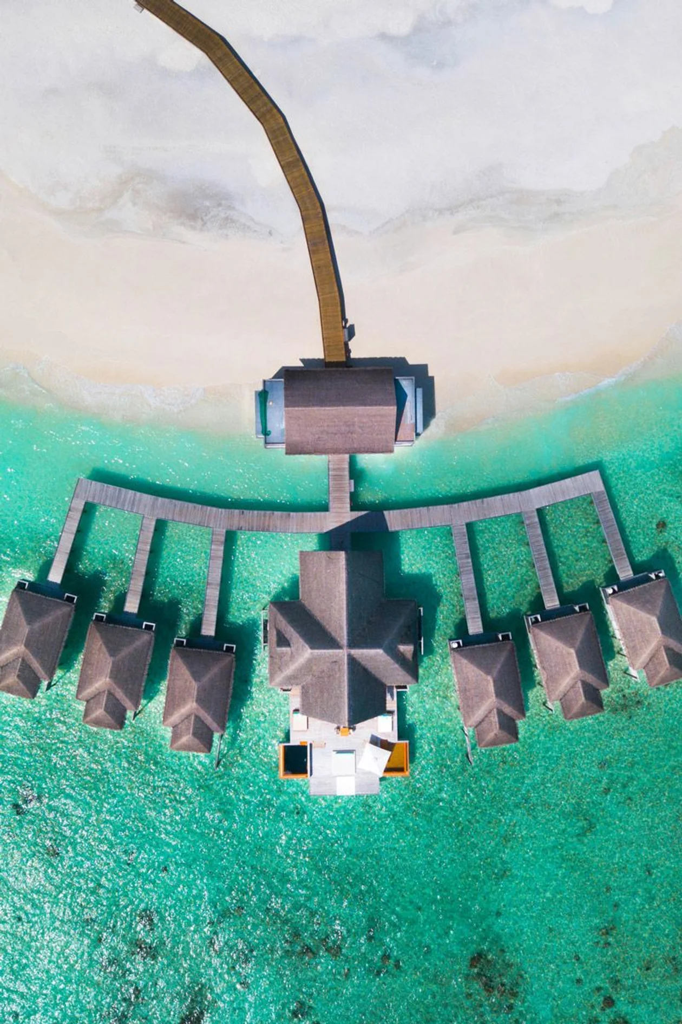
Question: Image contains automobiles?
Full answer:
No, this view has no automobile in it.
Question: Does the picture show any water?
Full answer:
Yes, water shows up in the scene.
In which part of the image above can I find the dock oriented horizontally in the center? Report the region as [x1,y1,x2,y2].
[74,470,605,533]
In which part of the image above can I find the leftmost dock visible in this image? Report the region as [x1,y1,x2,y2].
[46,497,88,589]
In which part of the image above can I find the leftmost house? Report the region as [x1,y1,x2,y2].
[0,579,80,698]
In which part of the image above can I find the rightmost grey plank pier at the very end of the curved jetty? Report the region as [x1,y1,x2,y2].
[588,488,633,585]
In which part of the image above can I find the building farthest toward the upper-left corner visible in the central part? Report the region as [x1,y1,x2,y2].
[255,369,423,455]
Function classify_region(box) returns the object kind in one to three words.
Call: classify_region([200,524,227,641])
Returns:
pier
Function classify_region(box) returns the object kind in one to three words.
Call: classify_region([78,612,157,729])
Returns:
house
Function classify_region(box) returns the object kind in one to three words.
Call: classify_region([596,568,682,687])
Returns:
house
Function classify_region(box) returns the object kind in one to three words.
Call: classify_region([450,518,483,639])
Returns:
pier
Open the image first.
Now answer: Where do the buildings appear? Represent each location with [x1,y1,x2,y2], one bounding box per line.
[255,369,423,455]
[262,551,422,728]
[445,629,526,763]
[162,636,237,769]
[0,579,80,698]
[596,568,682,687]
[78,612,157,729]
[520,600,610,719]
